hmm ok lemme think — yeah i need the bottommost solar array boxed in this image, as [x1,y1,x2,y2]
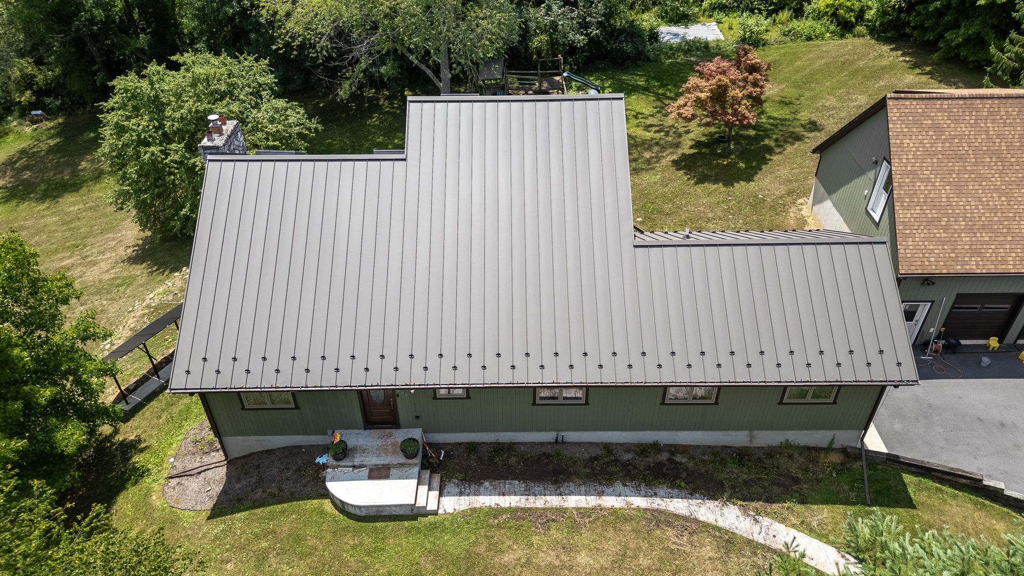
[96,302,182,420]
